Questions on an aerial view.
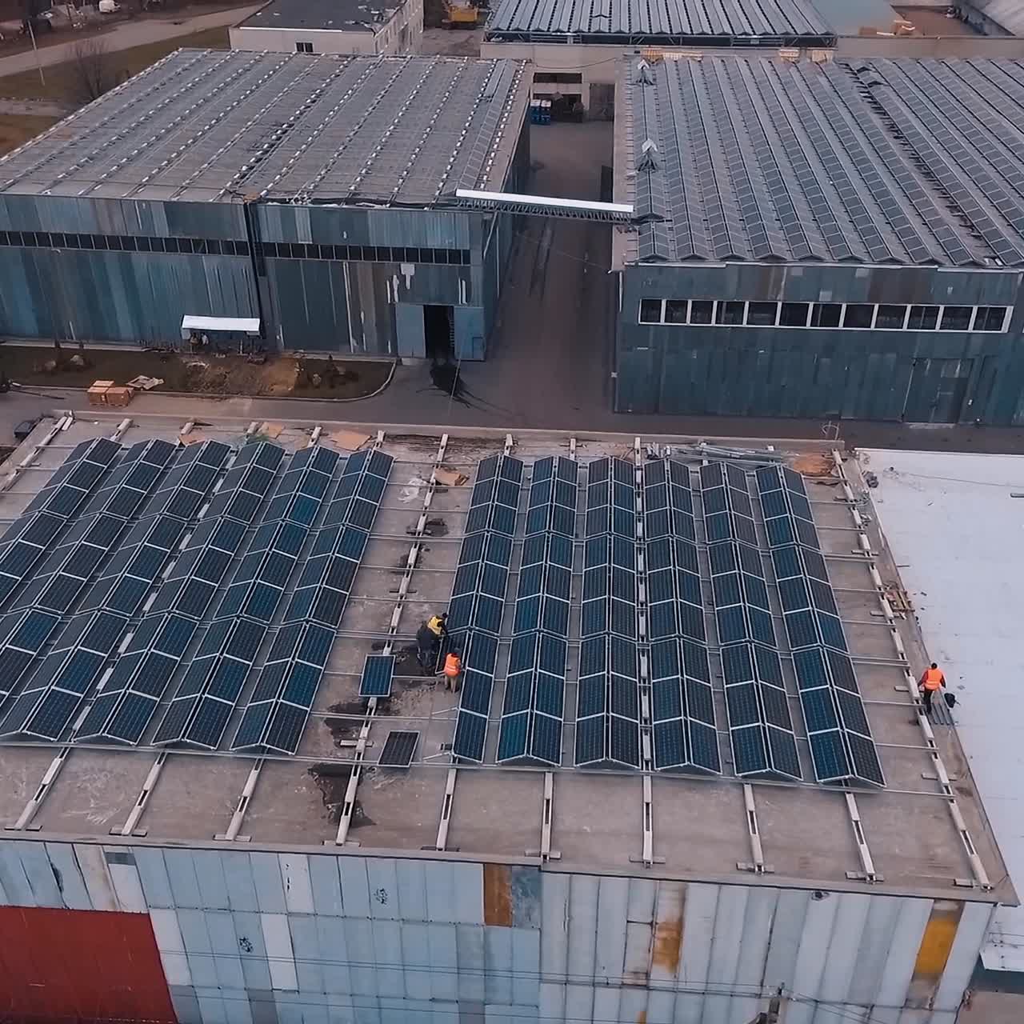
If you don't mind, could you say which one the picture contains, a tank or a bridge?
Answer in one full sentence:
There is a bridge in the scene.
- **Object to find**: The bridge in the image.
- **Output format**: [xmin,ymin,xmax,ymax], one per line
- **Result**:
[453,188,636,238]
